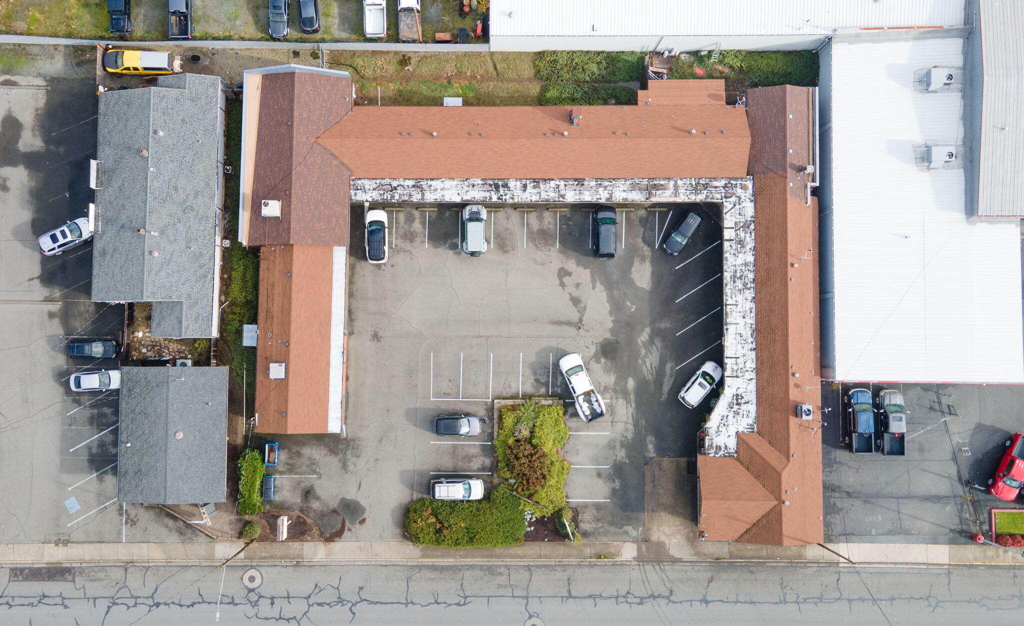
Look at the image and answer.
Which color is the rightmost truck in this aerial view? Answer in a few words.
red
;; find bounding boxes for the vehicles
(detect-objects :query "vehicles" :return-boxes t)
[362,210,390,265]
[843,387,876,456]
[429,476,484,503]
[106,46,177,77]
[35,218,94,257]
[104,0,136,35]
[592,205,619,262]
[661,205,706,260]
[69,337,122,363]
[462,206,488,258]
[398,0,422,42]
[985,428,1024,500]
[559,352,607,427]
[363,0,388,40]
[875,388,909,458]
[679,359,722,412]
[69,367,120,394]
[264,0,292,41]
[166,0,195,40]
[431,413,483,440]
[298,0,325,37]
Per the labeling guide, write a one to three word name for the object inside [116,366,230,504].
house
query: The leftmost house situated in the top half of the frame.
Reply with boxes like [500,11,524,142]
[88,72,228,339]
